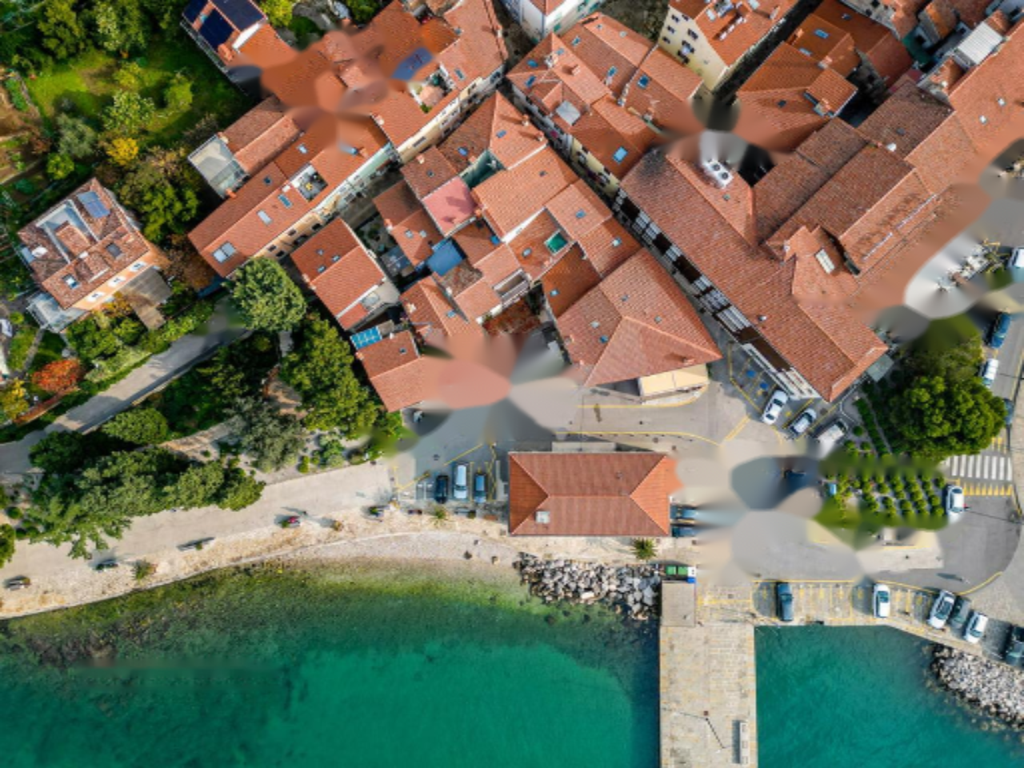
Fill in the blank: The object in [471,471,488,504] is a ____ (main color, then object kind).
blue car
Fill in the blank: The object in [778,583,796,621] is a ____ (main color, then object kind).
blue car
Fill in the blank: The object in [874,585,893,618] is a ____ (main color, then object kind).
white car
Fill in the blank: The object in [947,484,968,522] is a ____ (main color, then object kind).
white car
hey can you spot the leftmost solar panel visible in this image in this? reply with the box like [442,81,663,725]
[76,190,109,218]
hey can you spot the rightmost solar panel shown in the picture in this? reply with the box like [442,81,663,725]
[350,326,383,349]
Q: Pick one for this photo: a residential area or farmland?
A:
residential area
